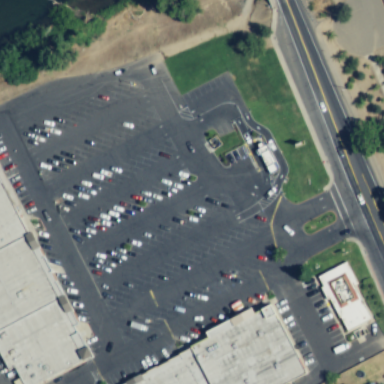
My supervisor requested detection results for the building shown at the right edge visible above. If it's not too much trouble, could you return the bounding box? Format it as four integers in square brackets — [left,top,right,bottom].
[318,262,373,342]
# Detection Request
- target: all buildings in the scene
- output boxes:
[258,142,280,174]
[122,302,306,384]
[0,184,92,384]
[318,262,373,342]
